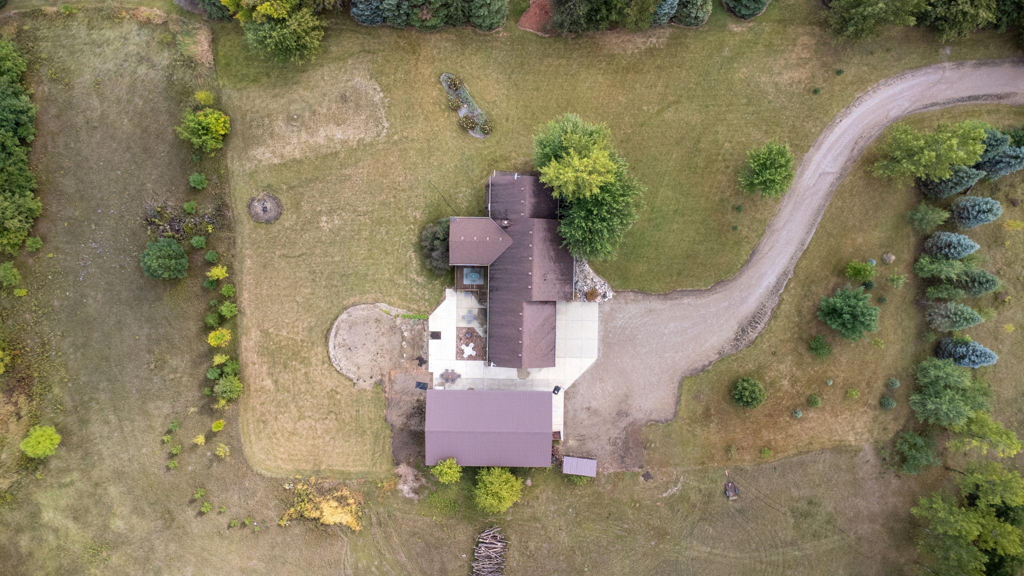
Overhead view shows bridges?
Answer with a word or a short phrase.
No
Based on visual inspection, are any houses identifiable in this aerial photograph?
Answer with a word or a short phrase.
Yes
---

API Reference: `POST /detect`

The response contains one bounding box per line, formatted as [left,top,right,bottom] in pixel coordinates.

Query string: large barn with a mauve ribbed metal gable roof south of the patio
[424,388,553,467]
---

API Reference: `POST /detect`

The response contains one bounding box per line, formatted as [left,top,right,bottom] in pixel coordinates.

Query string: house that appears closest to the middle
[449,175,575,368]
